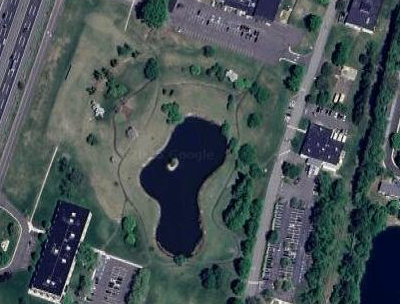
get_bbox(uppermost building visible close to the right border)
[346,0,384,33]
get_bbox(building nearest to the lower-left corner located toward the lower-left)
[29,200,93,300]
